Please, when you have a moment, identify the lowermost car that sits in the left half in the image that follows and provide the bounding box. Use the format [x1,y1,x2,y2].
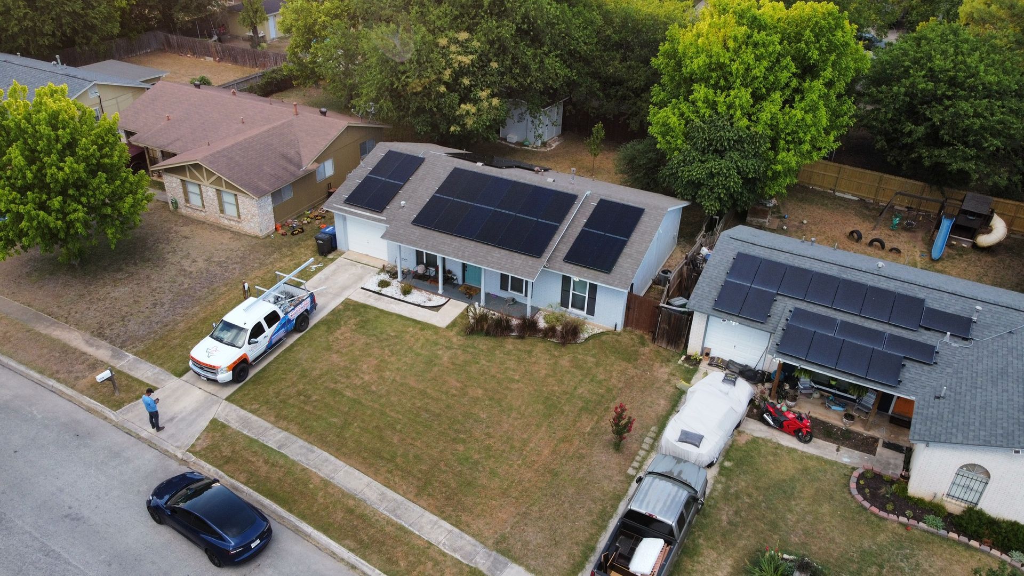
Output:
[150,475,277,573]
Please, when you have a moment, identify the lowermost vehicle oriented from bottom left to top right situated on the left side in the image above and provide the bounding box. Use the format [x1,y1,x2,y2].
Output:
[185,271,318,382]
